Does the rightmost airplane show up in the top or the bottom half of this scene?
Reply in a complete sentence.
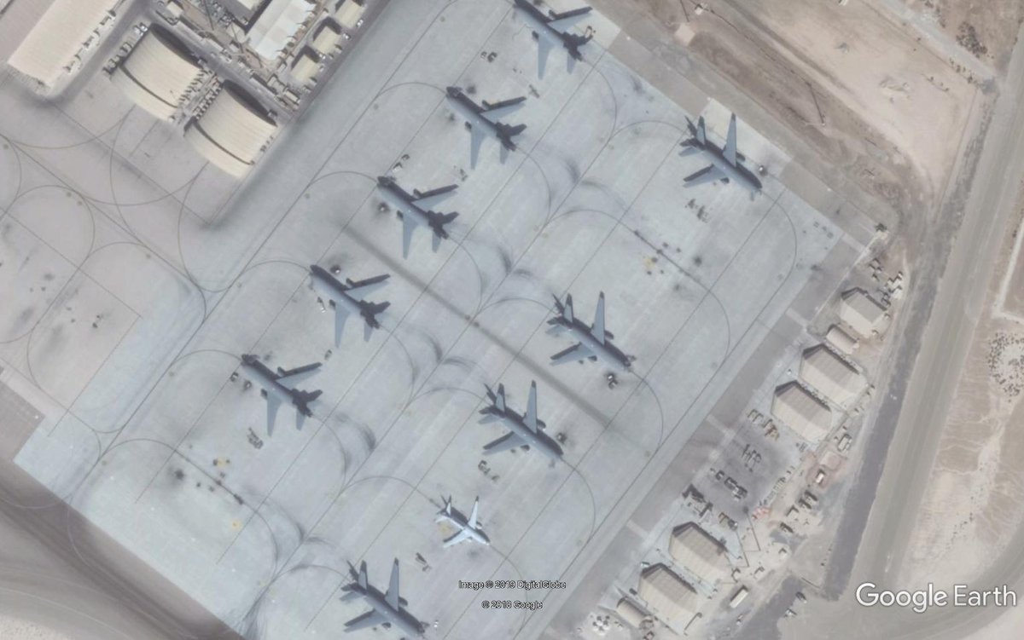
You can find the rightmost airplane in the top half.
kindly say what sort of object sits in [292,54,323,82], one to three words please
building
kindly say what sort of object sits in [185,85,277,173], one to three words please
hangar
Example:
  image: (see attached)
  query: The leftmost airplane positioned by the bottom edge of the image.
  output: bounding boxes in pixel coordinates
[341,562,424,639]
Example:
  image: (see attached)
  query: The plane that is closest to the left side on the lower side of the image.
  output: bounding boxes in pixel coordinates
[241,363,321,439]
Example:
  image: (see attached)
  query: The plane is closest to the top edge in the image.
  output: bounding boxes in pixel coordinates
[513,3,594,81]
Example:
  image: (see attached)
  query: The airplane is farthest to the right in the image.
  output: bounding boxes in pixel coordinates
[677,113,761,191]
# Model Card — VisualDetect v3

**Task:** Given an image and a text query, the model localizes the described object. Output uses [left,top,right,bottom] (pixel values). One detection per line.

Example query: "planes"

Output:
[241,363,321,439]
[513,3,594,81]
[378,184,458,262]
[437,499,489,547]
[546,293,630,370]
[677,113,761,191]
[310,273,390,350]
[478,384,562,462]
[341,562,424,639]
[446,94,526,171]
